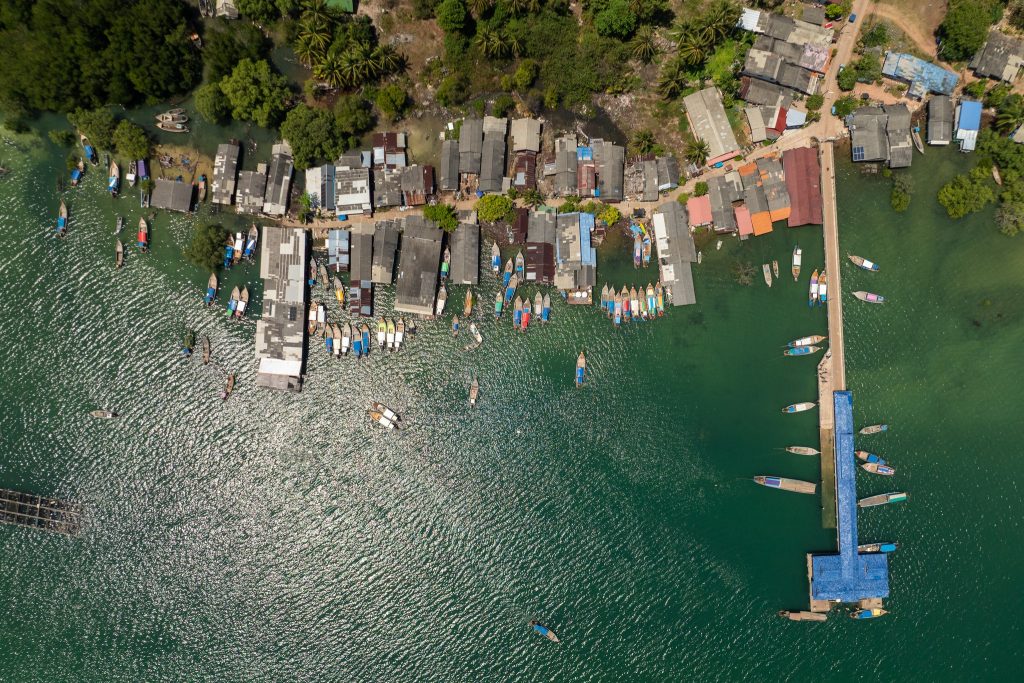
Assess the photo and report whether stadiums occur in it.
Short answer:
No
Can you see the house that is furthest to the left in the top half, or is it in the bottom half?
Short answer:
top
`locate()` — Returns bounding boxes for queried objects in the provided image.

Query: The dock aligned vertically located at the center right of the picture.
[805,137,887,611]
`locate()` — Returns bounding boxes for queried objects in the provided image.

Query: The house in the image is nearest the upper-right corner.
[964,30,1024,85]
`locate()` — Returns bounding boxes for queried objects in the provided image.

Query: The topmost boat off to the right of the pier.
[910,122,926,153]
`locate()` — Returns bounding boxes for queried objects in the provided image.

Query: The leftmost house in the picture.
[151,179,197,214]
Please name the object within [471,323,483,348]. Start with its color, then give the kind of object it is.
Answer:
white boat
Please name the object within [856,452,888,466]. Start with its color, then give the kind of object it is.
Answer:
blue boat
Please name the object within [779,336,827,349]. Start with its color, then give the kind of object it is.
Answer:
white boat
